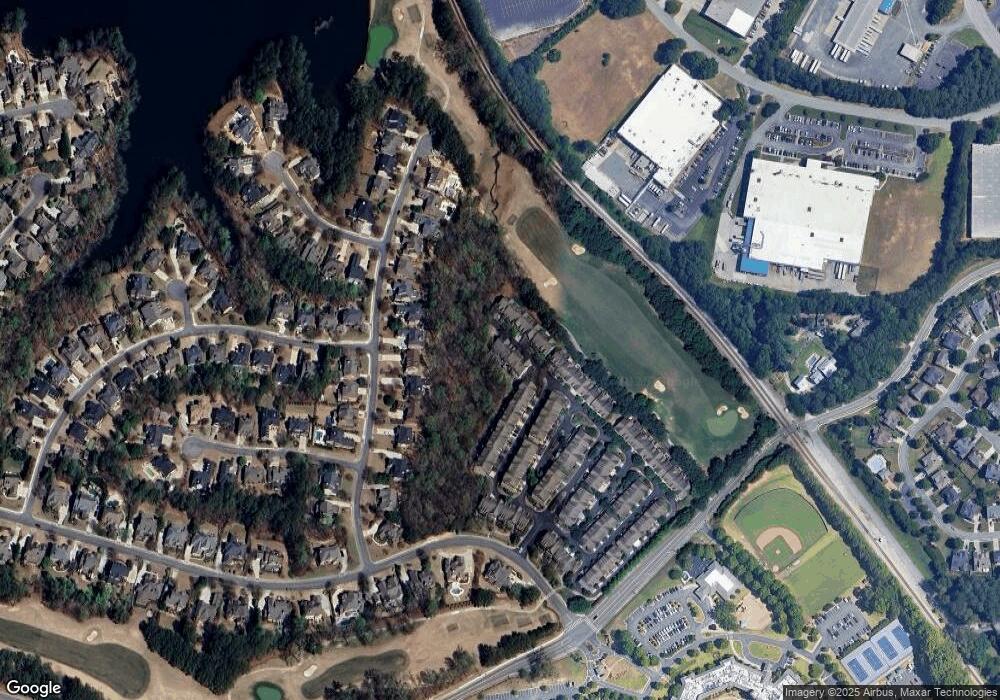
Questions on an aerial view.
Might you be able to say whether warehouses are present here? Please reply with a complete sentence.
Yes, a warehouse can be made out from above.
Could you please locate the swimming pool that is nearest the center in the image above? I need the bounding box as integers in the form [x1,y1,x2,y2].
[313,428,326,444]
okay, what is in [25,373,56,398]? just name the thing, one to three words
house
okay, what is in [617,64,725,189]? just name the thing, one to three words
building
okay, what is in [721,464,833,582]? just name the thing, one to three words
baseball field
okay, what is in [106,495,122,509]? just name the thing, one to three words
swimming pool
